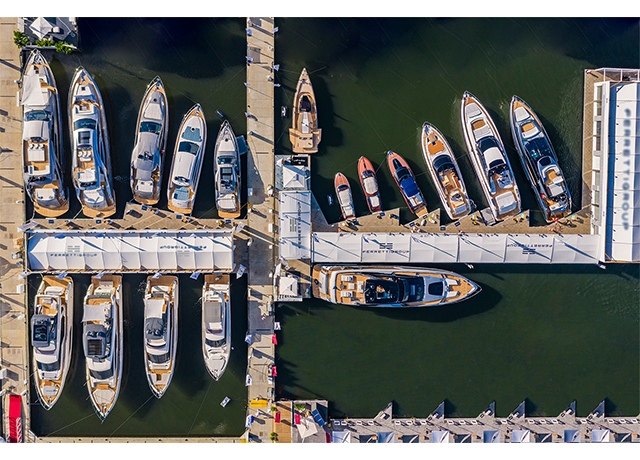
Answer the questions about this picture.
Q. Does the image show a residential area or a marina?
marina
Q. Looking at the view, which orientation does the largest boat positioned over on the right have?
horizontally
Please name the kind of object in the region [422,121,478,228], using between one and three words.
boat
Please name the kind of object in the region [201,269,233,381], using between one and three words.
boat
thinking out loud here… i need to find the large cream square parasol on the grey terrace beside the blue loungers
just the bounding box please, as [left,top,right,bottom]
[301,414,325,440]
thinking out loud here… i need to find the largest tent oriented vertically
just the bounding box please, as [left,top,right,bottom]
[279,191,311,263]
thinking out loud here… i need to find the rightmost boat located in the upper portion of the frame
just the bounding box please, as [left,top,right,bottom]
[512,96,579,228]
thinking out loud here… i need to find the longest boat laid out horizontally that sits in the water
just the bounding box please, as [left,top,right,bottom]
[312,264,482,309]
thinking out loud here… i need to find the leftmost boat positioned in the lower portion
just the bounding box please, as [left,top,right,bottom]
[29,272,75,410]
